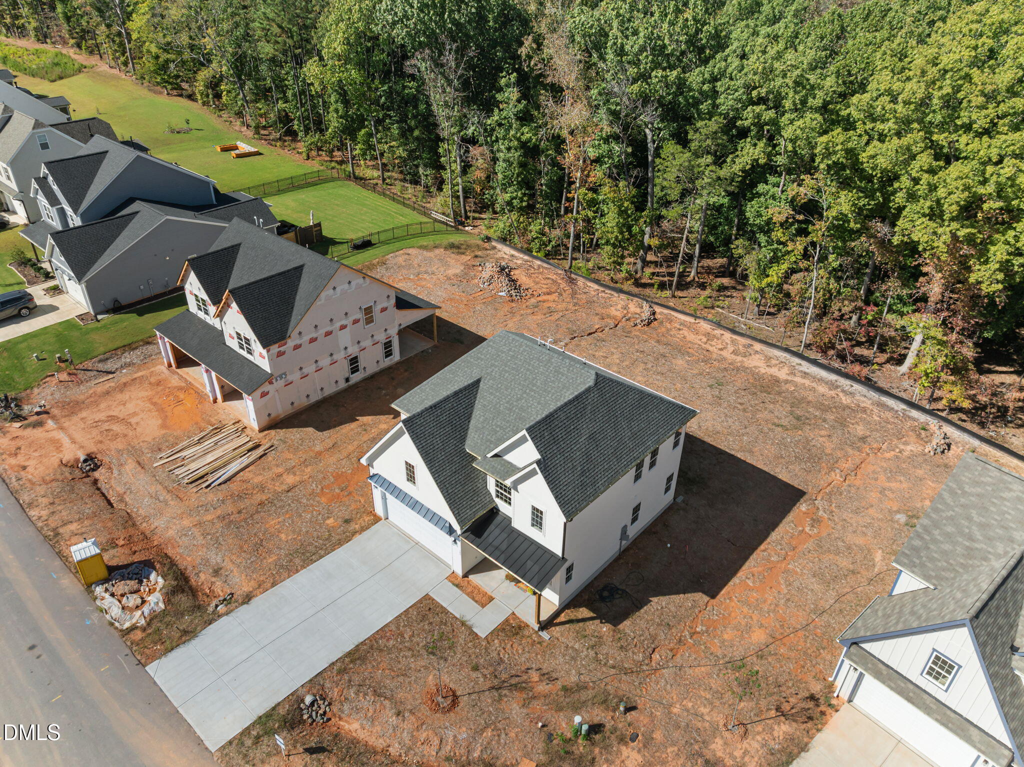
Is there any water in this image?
No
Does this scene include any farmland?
No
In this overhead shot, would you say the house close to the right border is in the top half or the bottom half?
bottom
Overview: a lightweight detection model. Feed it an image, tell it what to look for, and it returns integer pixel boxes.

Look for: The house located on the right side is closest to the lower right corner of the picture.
[827,451,1024,767]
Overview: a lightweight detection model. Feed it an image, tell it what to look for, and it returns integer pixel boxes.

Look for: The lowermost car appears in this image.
[0,289,37,320]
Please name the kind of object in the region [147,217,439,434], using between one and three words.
house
